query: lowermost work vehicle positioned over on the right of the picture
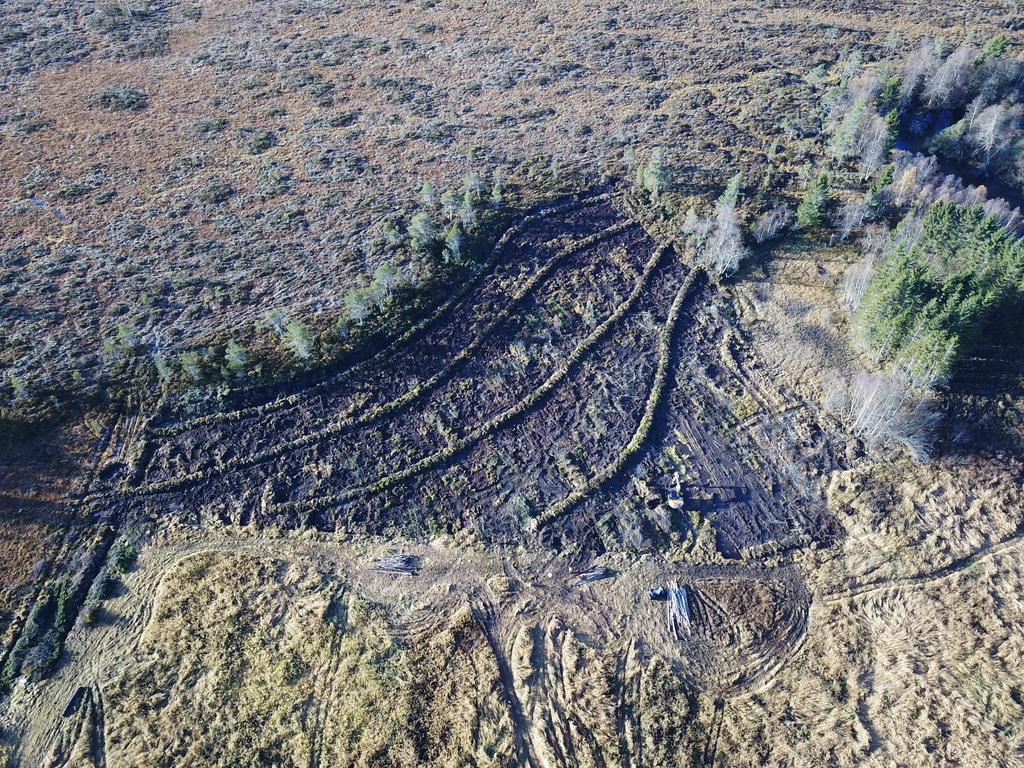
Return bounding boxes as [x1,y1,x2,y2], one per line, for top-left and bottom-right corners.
[644,587,667,604]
